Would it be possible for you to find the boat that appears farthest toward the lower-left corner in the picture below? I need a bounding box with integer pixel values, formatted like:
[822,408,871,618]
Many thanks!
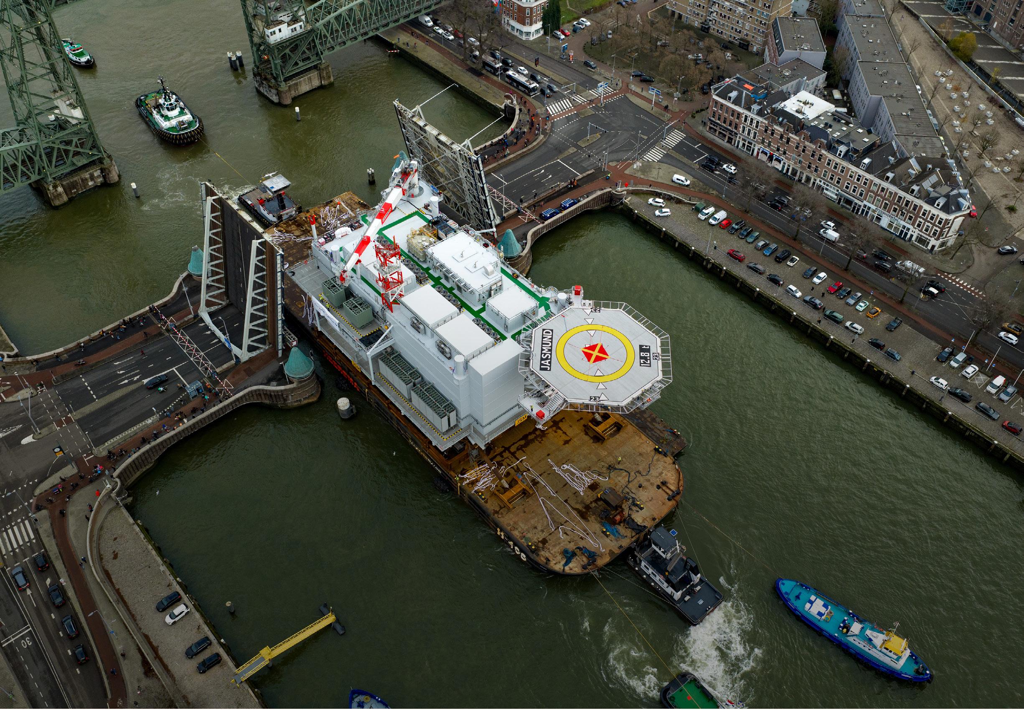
[349,688,391,710]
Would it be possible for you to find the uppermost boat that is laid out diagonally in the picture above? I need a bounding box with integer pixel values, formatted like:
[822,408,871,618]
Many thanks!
[58,30,96,68]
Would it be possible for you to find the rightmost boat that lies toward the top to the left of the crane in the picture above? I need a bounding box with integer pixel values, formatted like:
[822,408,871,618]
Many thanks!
[236,170,305,228]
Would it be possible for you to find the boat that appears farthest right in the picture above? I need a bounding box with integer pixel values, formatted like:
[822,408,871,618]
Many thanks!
[775,575,939,686]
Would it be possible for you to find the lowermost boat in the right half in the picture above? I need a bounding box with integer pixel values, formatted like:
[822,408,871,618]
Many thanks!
[657,668,738,710]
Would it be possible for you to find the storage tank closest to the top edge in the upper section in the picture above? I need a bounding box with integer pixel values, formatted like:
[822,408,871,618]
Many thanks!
[408,226,438,260]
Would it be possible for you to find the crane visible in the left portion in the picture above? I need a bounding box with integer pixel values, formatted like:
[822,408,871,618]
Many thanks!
[334,151,423,280]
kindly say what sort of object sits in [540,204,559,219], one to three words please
car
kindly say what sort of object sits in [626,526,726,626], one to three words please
boat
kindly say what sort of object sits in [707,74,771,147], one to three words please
house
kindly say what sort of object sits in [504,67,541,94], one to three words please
bus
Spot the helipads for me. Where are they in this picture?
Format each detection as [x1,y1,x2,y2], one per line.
[496,282,672,427]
